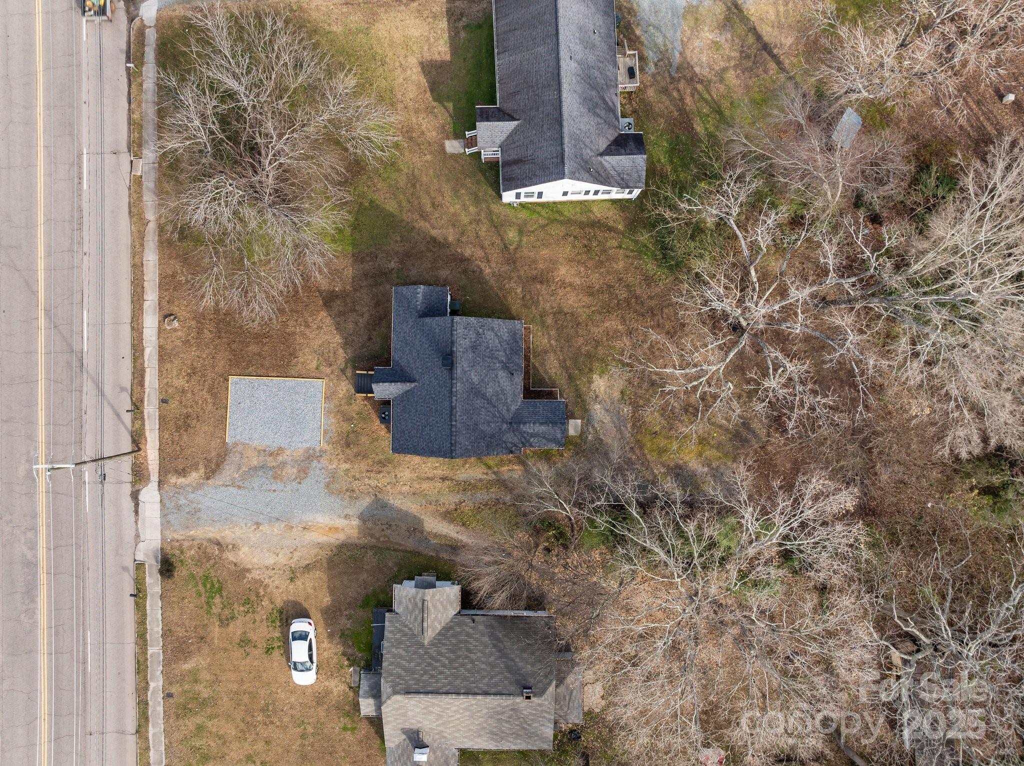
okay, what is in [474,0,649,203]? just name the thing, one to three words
house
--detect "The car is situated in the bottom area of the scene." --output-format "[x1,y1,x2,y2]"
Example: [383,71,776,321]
[289,617,319,684]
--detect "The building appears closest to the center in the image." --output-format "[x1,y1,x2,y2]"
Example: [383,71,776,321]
[371,285,567,458]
